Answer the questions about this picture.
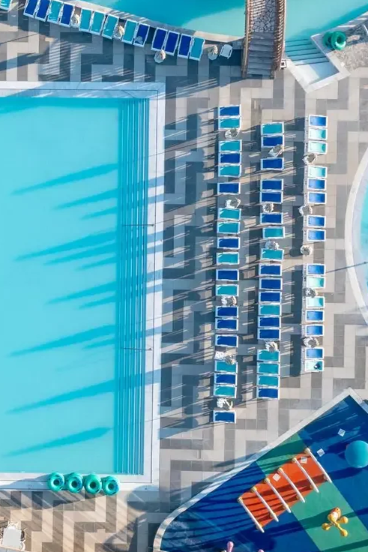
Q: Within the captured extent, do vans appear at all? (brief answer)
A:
No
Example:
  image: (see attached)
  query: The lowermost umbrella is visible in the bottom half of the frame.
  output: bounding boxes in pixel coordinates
[218,398,234,414]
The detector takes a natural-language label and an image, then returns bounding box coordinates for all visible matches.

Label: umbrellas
[268,142,287,157]
[222,295,238,308]
[225,195,243,209]
[304,336,321,349]
[265,238,282,252]
[69,8,83,27]
[299,202,319,216]
[154,46,170,63]
[261,199,279,214]
[223,352,238,367]
[225,125,241,139]
[264,340,281,354]
[301,149,321,164]
[304,286,322,300]
[218,398,234,414]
